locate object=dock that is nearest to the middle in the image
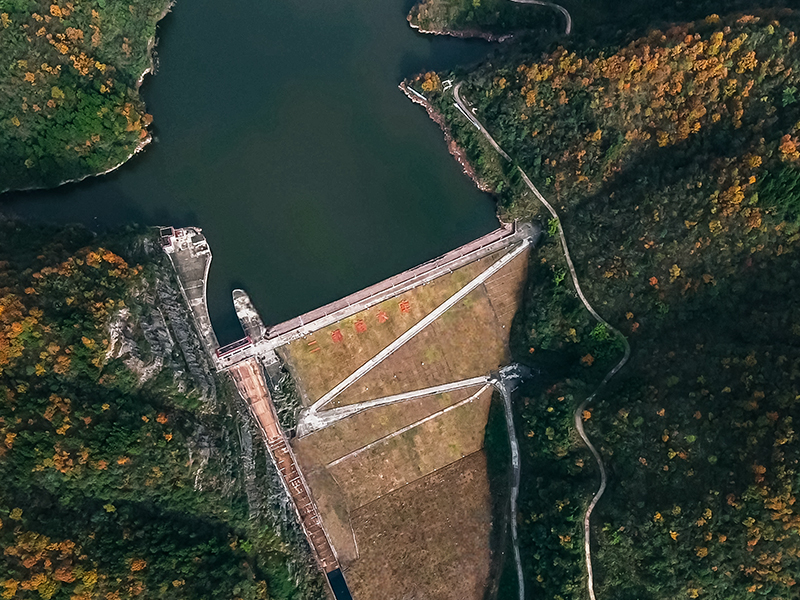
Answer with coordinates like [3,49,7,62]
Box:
[232,290,268,349]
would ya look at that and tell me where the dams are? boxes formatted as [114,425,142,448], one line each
[266,213,533,600]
